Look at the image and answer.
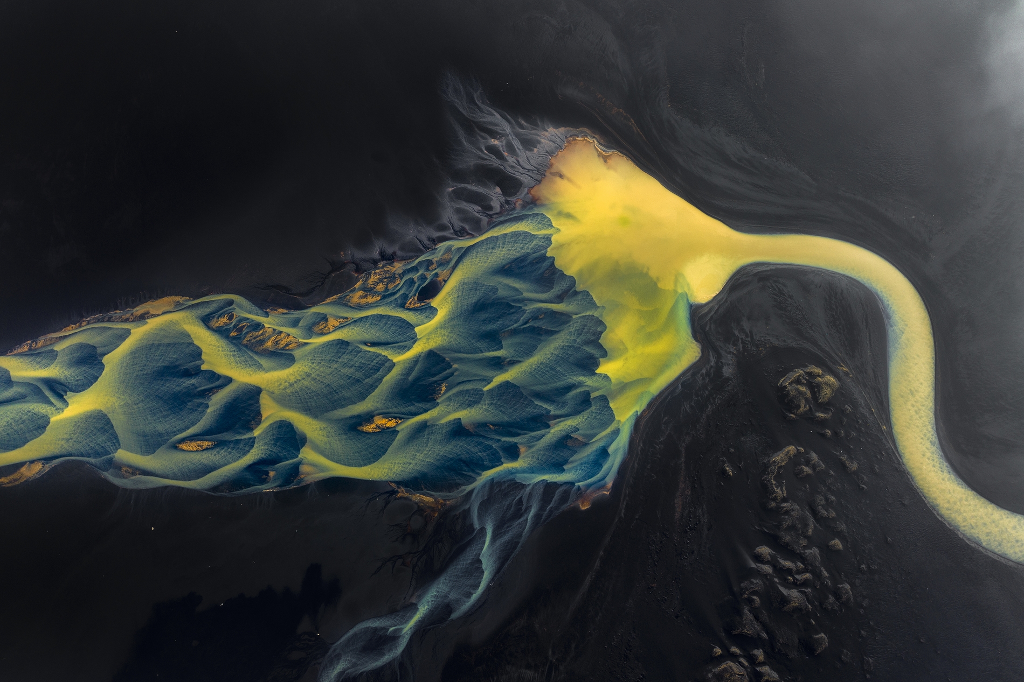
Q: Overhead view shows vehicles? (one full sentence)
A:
No, this view has no vehicle in it.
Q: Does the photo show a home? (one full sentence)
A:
No, the picture doesn't show any home.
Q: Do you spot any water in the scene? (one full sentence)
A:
Yes, water can be seen from above here.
